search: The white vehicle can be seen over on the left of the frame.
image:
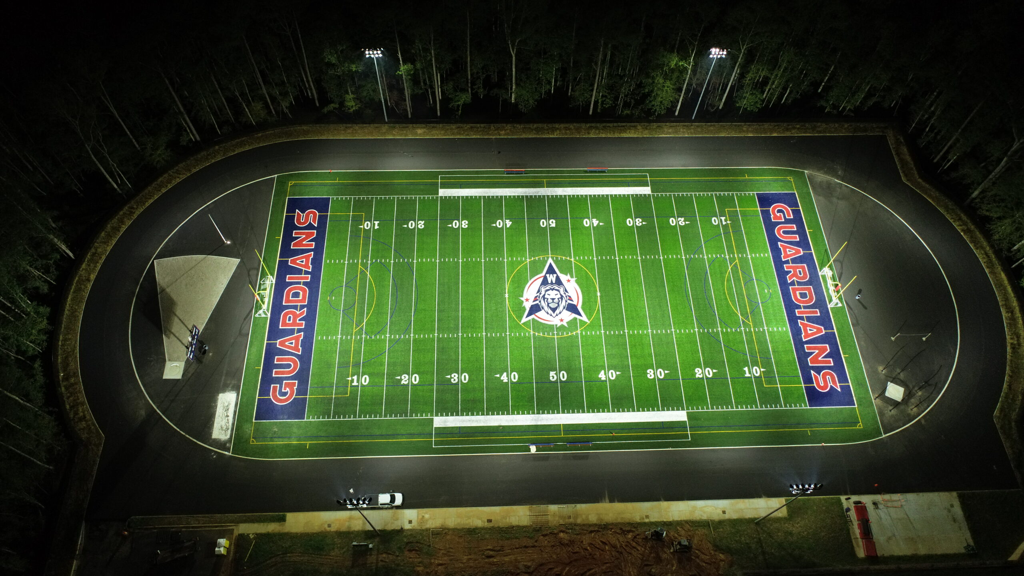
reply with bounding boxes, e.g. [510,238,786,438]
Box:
[366,492,405,508]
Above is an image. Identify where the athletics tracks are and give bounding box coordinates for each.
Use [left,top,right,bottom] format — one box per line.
[68,134,1021,576]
